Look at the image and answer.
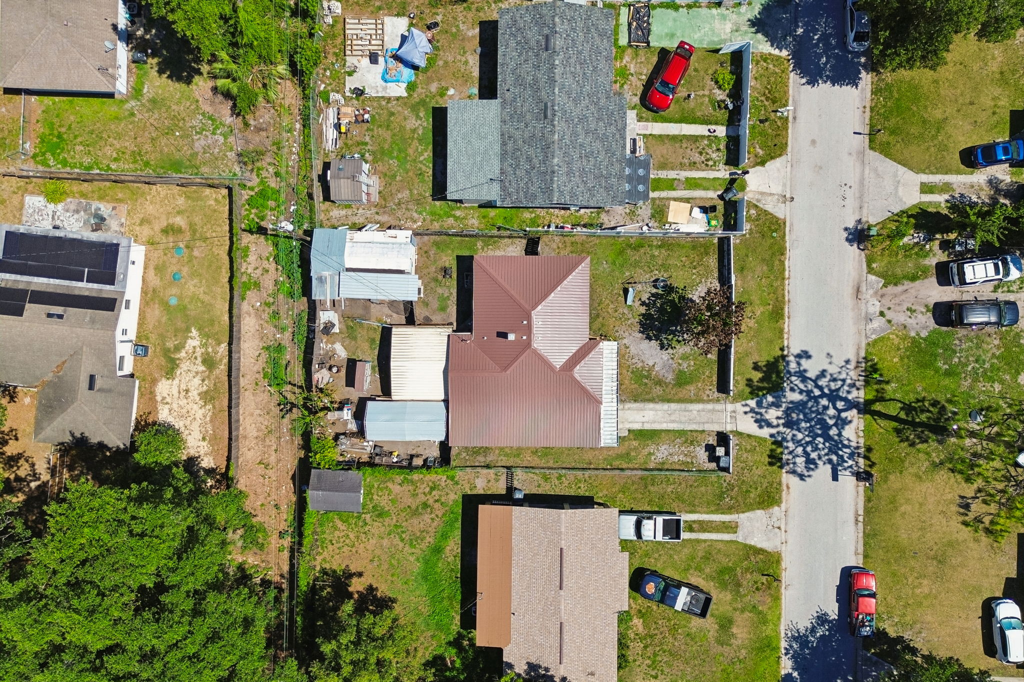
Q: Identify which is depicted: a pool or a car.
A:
car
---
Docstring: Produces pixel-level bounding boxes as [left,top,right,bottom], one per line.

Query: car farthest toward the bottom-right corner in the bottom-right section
[987,596,1024,663]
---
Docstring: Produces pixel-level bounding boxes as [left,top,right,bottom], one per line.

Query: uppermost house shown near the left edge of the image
[1,0,126,95]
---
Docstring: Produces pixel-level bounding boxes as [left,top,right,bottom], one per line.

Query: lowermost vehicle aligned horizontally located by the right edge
[943,299,1016,330]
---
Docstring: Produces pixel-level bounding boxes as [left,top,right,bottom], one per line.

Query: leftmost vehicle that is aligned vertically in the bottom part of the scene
[843,564,878,639]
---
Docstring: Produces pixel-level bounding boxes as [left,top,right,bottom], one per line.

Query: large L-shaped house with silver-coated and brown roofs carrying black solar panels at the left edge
[0,223,149,452]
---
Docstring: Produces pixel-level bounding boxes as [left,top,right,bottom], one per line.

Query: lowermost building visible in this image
[476,505,629,682]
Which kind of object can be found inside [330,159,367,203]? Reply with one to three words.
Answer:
shed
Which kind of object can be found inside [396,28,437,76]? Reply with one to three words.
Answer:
gazebo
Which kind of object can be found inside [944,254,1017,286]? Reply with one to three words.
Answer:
vehicle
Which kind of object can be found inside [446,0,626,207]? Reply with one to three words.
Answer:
house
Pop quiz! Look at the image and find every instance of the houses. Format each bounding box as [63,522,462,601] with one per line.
[449,254,610,447]
[476,505,629,682]
[0,223,149,452]
[446,0,626,207]
[1,0,126,95]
